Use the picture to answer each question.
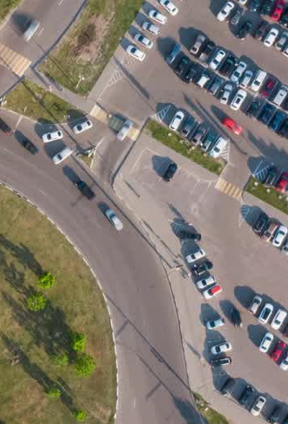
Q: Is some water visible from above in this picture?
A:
No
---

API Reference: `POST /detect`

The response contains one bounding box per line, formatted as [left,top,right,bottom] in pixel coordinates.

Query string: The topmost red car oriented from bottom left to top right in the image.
[269,0,286,22]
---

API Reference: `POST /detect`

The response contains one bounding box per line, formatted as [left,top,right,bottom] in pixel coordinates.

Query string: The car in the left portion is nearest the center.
[104,208,121,227]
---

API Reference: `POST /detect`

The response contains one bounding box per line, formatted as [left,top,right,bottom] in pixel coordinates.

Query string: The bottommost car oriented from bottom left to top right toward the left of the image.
[52,145,72,163]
